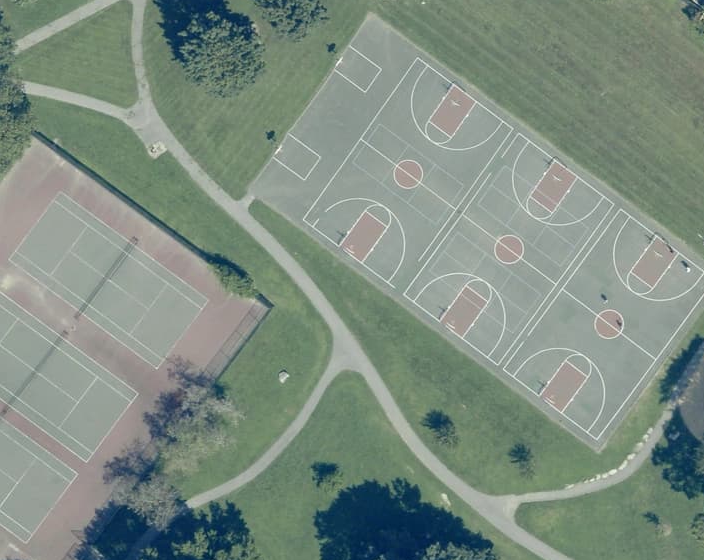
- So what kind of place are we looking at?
sports ground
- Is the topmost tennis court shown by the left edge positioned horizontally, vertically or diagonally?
diagonally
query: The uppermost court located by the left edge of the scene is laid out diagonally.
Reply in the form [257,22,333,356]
[9,192,208,368]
